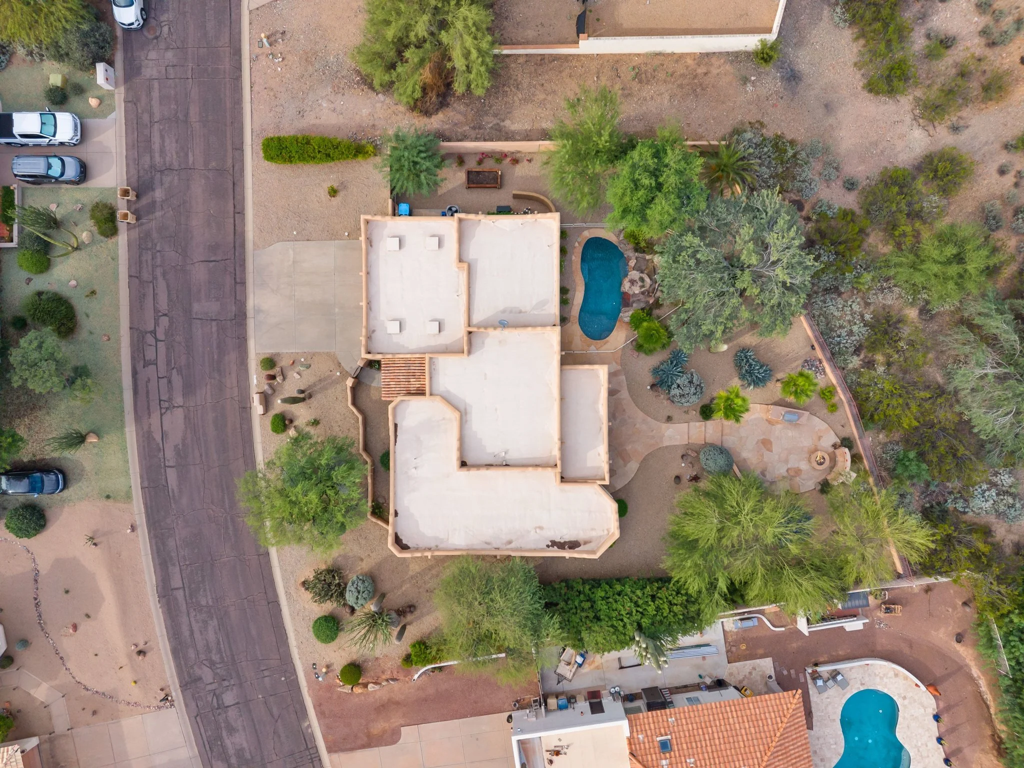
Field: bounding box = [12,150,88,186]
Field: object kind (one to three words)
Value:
car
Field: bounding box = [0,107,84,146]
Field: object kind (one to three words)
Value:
truck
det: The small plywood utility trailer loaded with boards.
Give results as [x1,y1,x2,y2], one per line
[551,644,588,691]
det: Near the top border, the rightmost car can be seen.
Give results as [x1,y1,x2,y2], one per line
[113,0,152,31]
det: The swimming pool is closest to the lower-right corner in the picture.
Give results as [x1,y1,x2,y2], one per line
[834,690,911,768]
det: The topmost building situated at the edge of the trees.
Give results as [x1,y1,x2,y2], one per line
[356,209,619,562]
